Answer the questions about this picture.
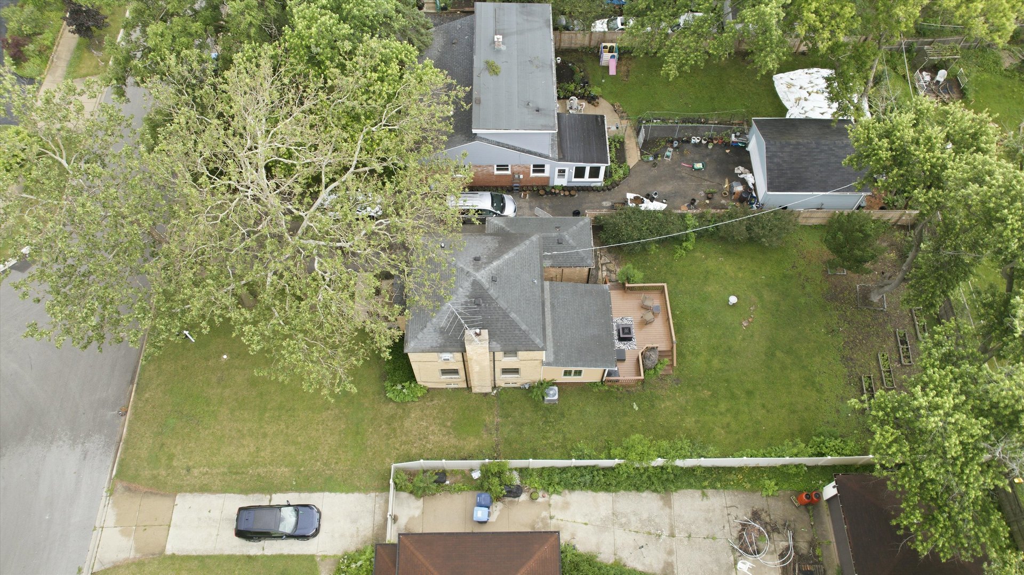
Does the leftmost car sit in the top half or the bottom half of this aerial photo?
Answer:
bottom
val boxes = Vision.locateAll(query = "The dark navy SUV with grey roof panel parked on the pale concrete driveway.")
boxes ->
[231,501,323,546]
